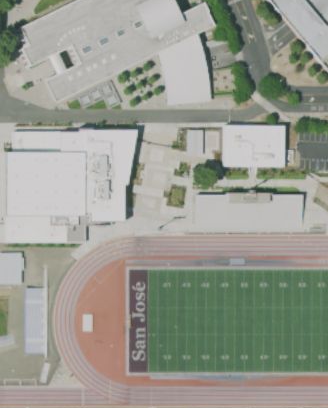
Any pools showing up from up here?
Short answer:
No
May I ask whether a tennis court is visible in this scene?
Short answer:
No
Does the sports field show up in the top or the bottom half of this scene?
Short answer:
bottom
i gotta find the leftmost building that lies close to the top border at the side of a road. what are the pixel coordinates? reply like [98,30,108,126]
[22,0,216,105]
